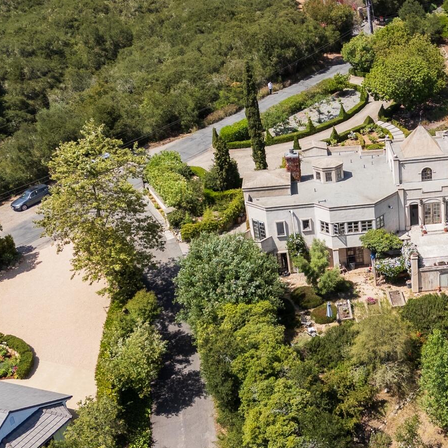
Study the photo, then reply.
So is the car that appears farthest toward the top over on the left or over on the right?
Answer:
left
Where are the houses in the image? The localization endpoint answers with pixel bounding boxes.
[0,380,80,448]
[244,116,448,293]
